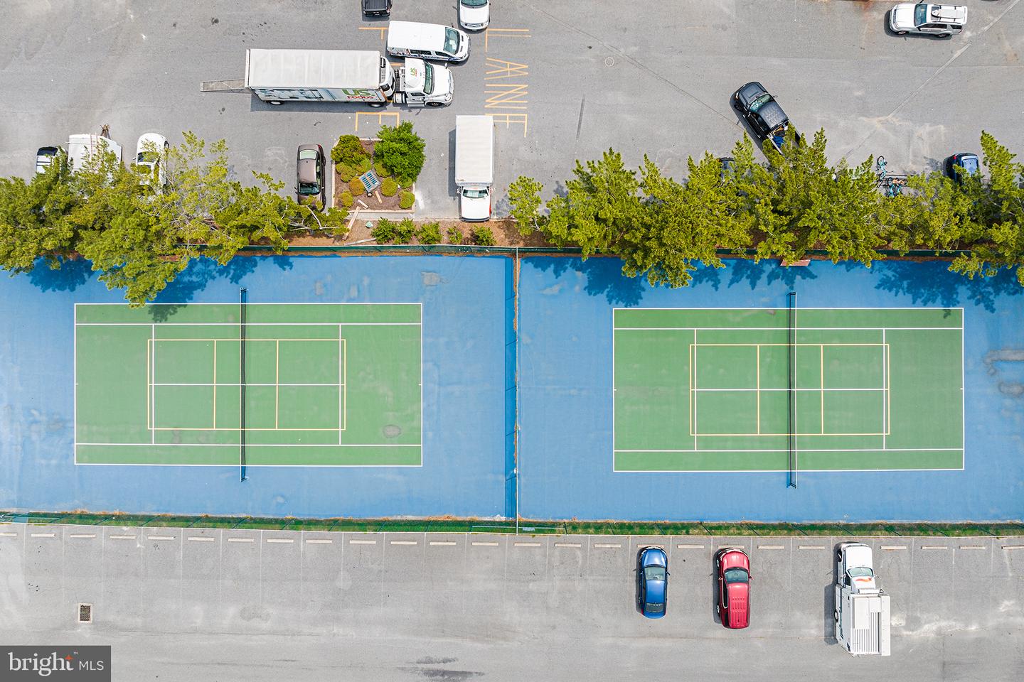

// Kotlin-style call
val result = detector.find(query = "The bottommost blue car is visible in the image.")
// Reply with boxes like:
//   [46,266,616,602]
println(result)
[635,548,671,621]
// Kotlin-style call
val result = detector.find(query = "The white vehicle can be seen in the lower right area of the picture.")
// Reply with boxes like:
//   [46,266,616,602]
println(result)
[832,543,888,656]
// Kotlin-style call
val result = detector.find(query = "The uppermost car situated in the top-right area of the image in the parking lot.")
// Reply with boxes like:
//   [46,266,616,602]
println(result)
[886,0,969,38]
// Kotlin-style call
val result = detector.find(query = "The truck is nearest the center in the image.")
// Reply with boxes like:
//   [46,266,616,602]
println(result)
[455,116,497,224]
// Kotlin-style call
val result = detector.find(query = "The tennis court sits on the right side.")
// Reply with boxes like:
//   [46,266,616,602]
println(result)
[517,257,1024,522]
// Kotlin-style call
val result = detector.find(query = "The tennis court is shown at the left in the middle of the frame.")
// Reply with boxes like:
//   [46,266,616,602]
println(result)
[0,256,516,519]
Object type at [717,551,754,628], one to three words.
car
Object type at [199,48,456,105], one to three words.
truck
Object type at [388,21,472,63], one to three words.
van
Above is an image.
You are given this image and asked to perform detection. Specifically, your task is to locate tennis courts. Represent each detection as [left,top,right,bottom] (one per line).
[0,256,516,519]
[517,257,1024,522]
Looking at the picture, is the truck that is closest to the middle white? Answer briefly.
Yes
